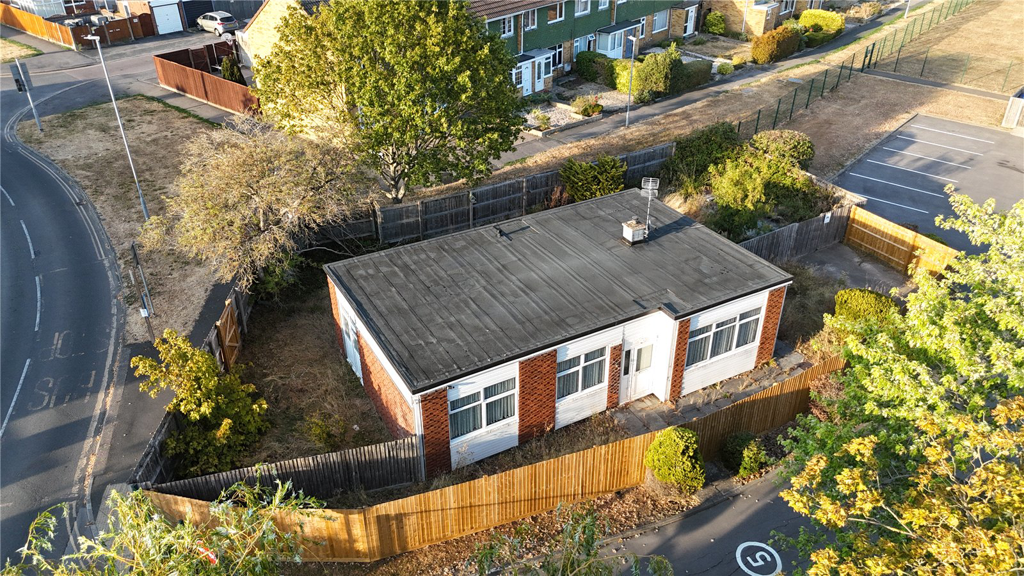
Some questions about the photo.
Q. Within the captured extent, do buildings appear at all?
Yes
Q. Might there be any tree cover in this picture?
Yes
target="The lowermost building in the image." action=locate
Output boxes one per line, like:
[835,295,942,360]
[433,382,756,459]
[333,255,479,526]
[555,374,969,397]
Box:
[324,188,796,478]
